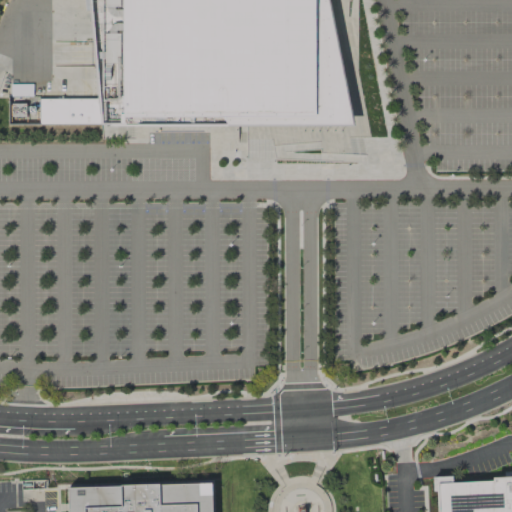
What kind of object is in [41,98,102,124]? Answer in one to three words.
shed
